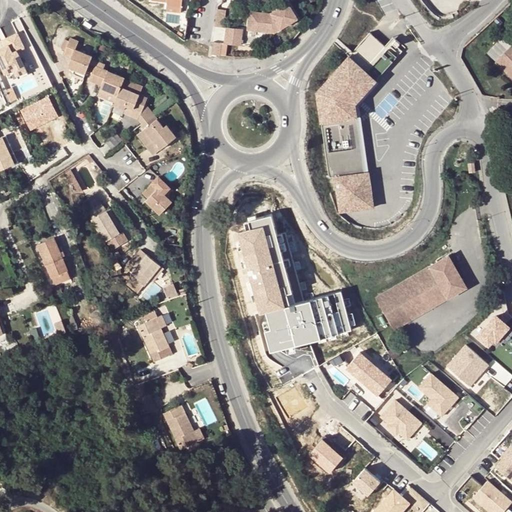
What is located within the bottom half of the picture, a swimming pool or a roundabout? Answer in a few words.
swimming pool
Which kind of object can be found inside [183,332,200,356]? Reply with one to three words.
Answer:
swimming pool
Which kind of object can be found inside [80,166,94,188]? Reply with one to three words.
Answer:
swimming pool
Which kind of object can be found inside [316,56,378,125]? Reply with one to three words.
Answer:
building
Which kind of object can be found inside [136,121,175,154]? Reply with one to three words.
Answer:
house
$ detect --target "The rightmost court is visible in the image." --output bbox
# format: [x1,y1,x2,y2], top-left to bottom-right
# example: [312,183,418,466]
[276,386,308,418]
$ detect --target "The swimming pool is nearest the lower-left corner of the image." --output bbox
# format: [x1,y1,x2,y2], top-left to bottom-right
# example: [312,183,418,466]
[36,310,55,336]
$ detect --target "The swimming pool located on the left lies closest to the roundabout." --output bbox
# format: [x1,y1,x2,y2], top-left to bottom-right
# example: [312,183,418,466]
[165,162,184,181]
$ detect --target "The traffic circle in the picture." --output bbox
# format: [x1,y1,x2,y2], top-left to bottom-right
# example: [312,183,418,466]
[201,74,300,174]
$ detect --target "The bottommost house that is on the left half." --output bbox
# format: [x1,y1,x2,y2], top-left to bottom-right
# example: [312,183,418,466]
[162,406,204,450]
